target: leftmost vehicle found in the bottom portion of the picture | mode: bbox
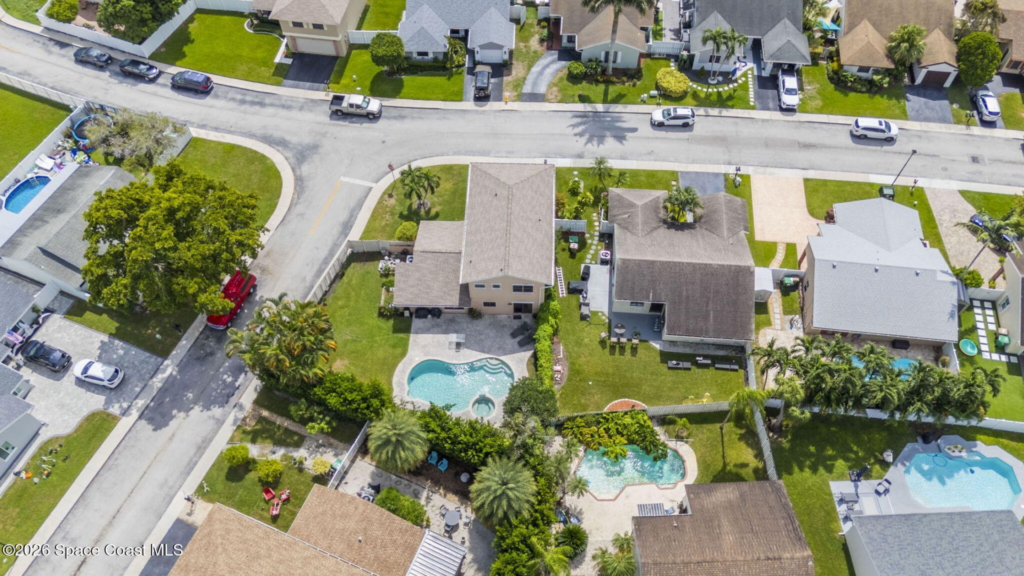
[18,337,77,377]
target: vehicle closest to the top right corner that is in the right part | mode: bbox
[969,92,1002,123]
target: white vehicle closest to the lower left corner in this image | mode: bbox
[70,356,130,393]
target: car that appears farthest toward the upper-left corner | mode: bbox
[71,46,117,69]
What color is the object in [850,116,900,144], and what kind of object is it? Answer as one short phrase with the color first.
white car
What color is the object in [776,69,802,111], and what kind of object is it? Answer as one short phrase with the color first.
white truck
